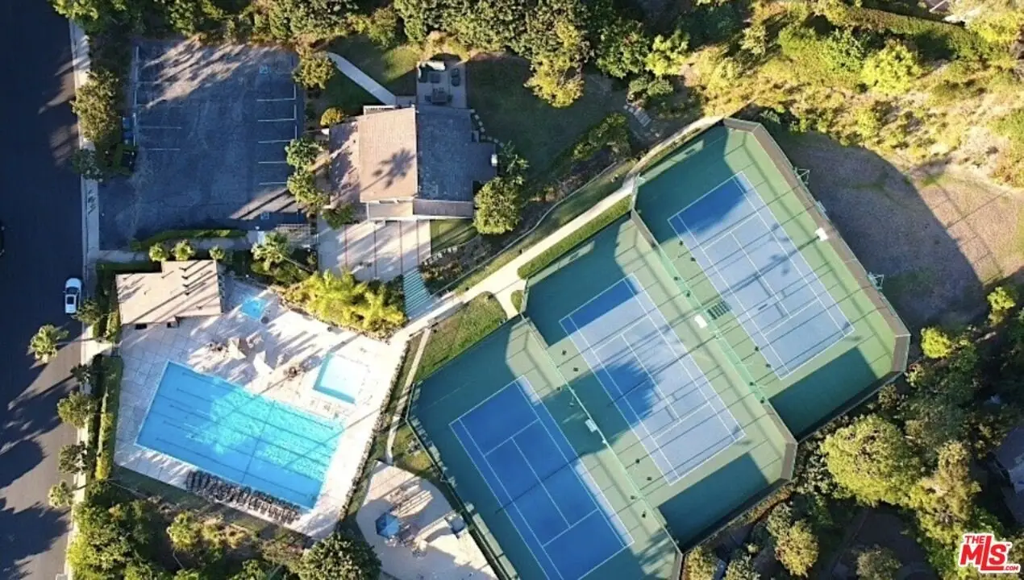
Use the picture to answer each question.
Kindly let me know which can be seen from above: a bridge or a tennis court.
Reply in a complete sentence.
There is a tennis court in the scene.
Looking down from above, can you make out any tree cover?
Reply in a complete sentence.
Yes, some tree cover is visible.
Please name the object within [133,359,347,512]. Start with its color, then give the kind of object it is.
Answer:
blue swimming pool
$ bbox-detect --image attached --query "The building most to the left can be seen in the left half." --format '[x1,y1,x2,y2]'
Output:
[116,259,224,330]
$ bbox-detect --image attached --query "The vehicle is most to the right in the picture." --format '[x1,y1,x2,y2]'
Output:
[63,279,85,314]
